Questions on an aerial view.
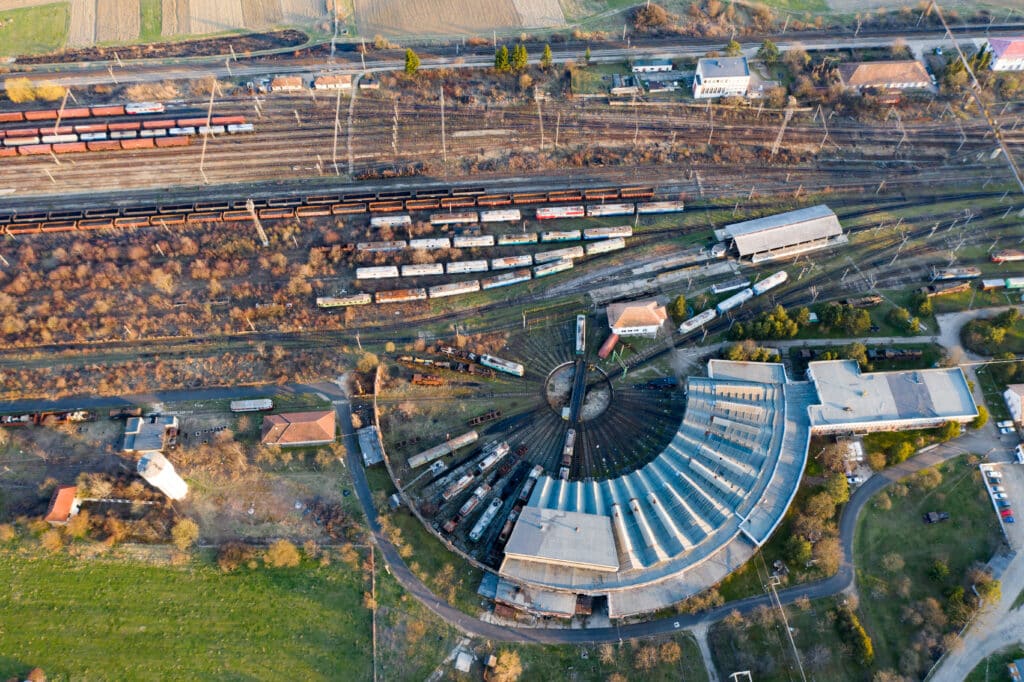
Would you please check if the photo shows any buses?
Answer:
Yes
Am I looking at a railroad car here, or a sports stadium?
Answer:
railroad car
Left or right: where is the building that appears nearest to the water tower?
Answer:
left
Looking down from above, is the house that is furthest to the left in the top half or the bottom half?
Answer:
bottom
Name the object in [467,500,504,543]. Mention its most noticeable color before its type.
blue rail car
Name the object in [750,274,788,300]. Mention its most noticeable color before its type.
white rail car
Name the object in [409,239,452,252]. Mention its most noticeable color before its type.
white rail car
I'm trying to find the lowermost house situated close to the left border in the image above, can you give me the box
[45,487,80,527]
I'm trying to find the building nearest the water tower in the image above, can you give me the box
[124,417,183,456]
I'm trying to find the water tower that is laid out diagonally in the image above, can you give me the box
[134,445,191,503]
